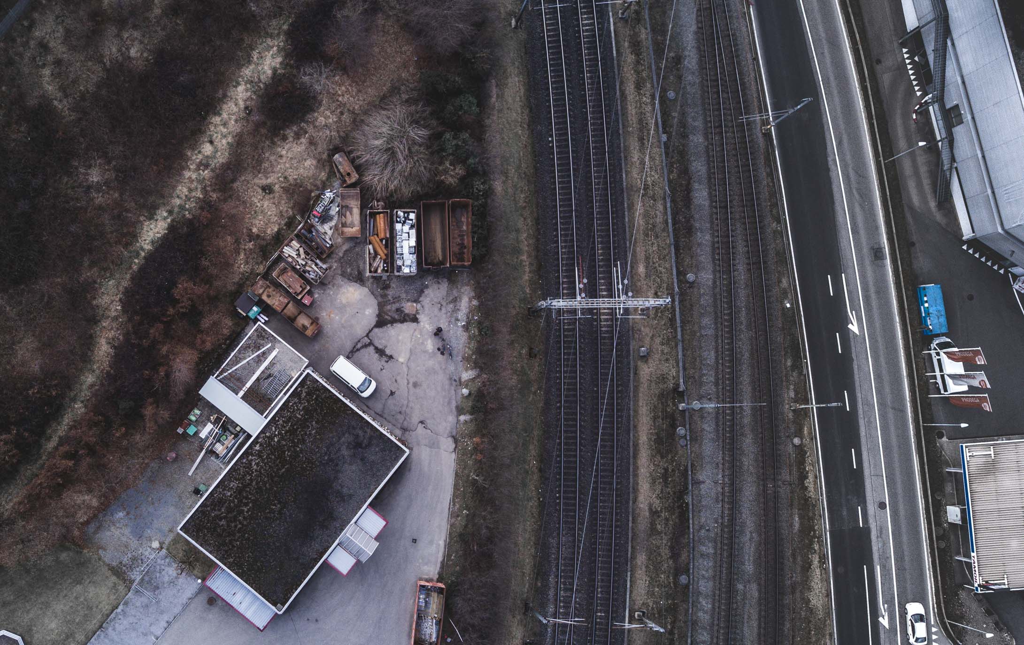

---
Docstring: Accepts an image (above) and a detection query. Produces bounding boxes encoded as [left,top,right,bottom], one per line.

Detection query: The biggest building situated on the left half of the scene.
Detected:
[179,366,408,632]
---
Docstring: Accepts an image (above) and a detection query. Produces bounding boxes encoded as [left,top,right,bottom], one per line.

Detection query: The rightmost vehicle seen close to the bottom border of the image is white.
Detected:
[902,601,930,645]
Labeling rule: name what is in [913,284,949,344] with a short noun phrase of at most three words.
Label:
trailer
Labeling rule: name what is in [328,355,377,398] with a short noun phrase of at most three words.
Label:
van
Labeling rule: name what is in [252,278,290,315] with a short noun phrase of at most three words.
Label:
shipping container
